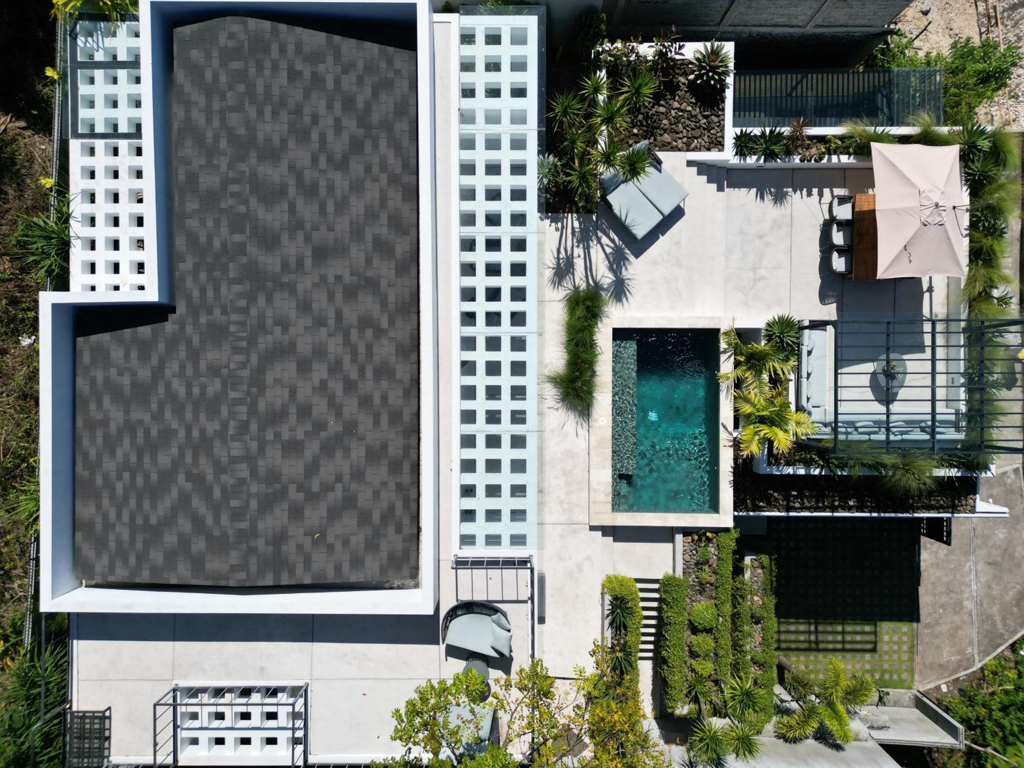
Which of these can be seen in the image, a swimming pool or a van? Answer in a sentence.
The one in the frame is a swimming pool.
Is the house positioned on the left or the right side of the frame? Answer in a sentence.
The house appears in the left half of the scene.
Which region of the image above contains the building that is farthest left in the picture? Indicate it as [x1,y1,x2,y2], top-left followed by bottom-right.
[40,0,538,761]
